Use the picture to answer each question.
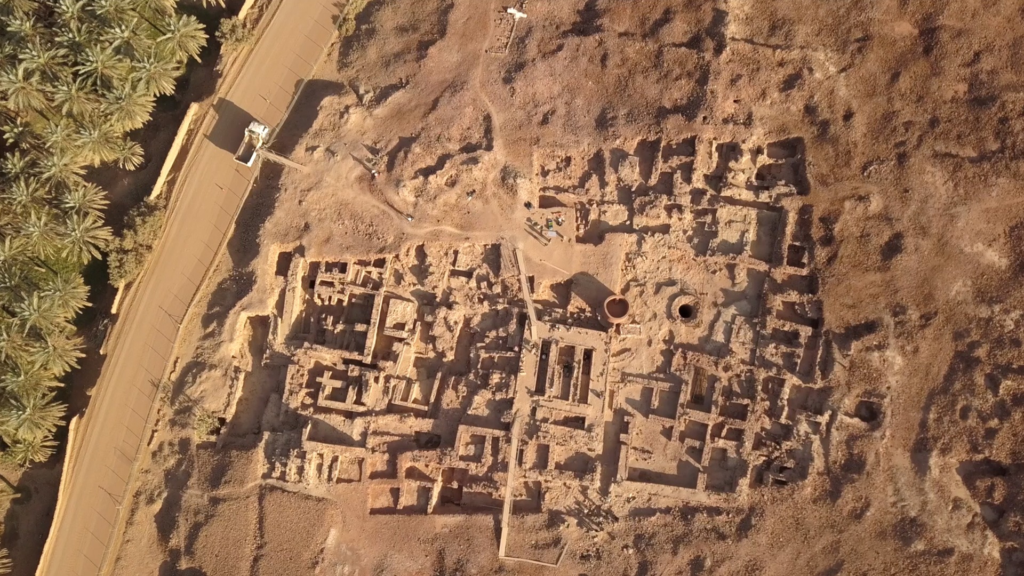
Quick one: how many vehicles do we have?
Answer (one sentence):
Only 1 vehicle is visible.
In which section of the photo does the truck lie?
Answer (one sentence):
You can find the truck in the top left area of the picture.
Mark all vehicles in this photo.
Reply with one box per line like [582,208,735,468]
[229,121,267,165]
